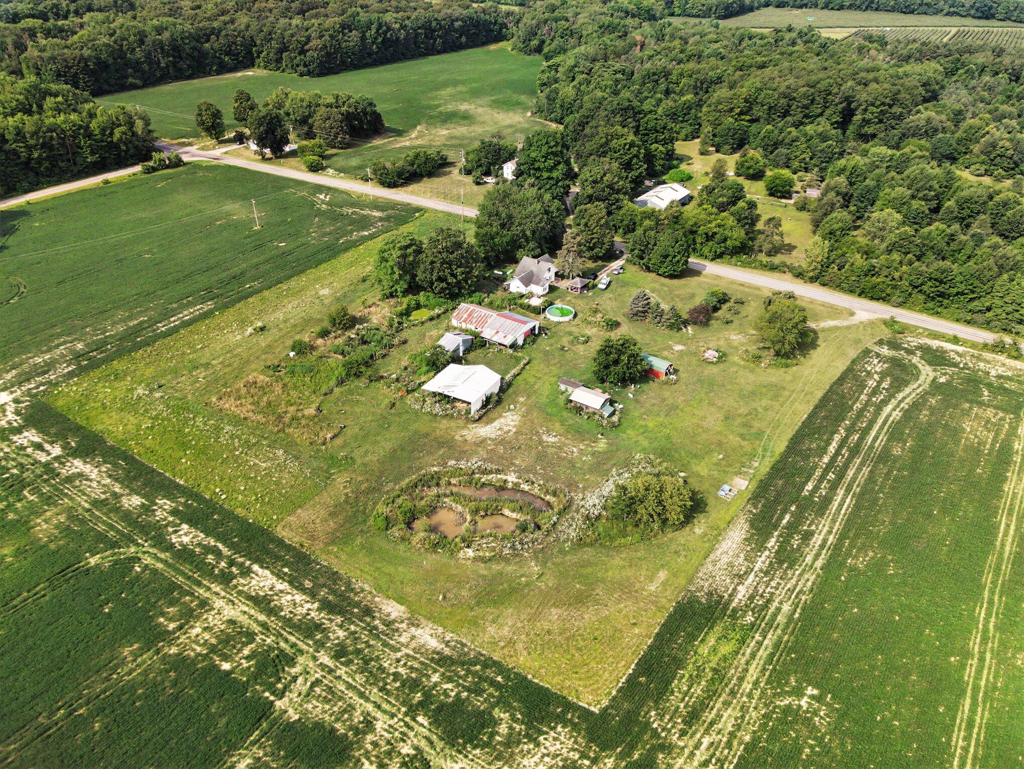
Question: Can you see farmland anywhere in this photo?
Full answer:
Yes, there's farmland in this view.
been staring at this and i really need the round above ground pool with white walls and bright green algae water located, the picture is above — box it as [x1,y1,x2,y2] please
[546,303,574,322]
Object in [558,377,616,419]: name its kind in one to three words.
shed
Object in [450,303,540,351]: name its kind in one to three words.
barn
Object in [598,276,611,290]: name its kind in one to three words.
vehicle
